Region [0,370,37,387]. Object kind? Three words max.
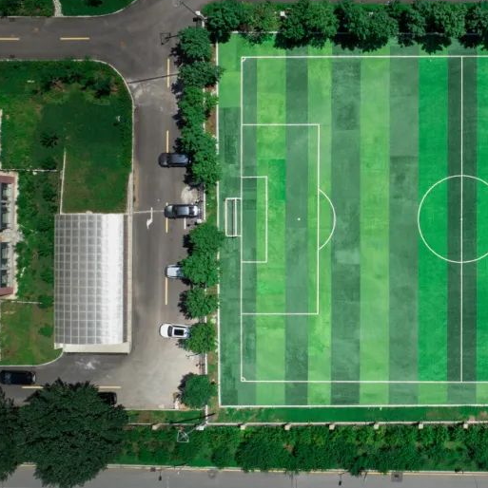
car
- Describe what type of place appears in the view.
sports ground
